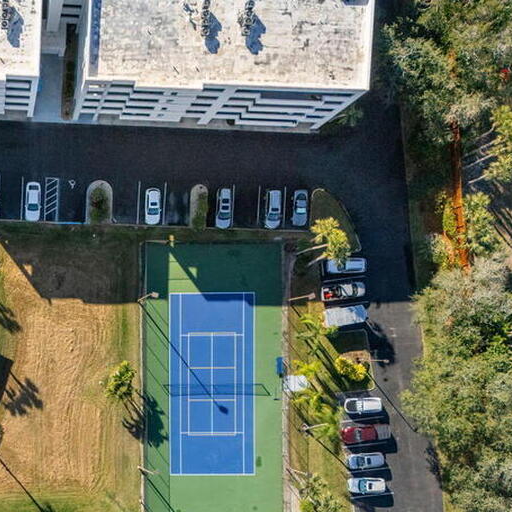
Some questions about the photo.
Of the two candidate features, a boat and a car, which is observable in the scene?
car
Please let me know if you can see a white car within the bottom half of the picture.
Yes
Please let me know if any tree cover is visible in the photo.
Yes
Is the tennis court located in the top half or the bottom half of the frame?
bottom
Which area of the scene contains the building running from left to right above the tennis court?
top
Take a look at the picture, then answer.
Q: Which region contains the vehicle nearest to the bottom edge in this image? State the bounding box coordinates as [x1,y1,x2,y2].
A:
[347,477,387,495]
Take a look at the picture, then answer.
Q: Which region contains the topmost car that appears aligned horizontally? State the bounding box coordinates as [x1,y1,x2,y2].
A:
[325,258,366,274]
